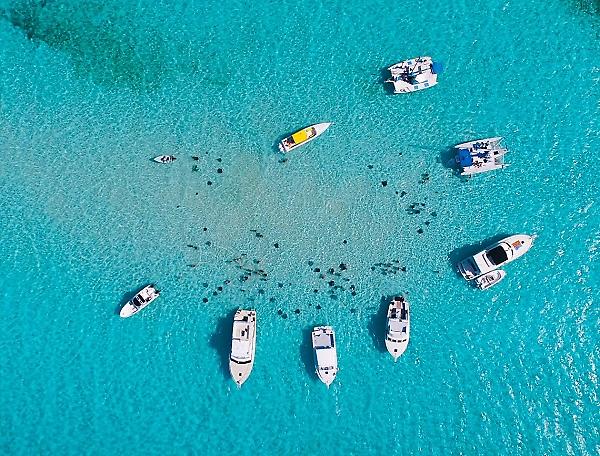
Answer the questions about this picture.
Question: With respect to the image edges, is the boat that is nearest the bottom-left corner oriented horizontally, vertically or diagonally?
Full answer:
The boat that is nearest the bottom-left corner runs diagonally in the image.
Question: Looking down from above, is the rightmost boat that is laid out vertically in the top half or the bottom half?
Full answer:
The bottom half of the photo is where the rightmost boat that is laid out vertically is.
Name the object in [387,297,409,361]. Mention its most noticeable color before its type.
white boat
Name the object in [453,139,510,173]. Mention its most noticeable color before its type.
white boat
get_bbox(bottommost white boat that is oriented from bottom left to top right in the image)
[120,284,161,318]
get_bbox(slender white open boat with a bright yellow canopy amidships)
[278,122,332,153]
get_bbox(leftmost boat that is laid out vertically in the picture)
[231,308,257,387]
